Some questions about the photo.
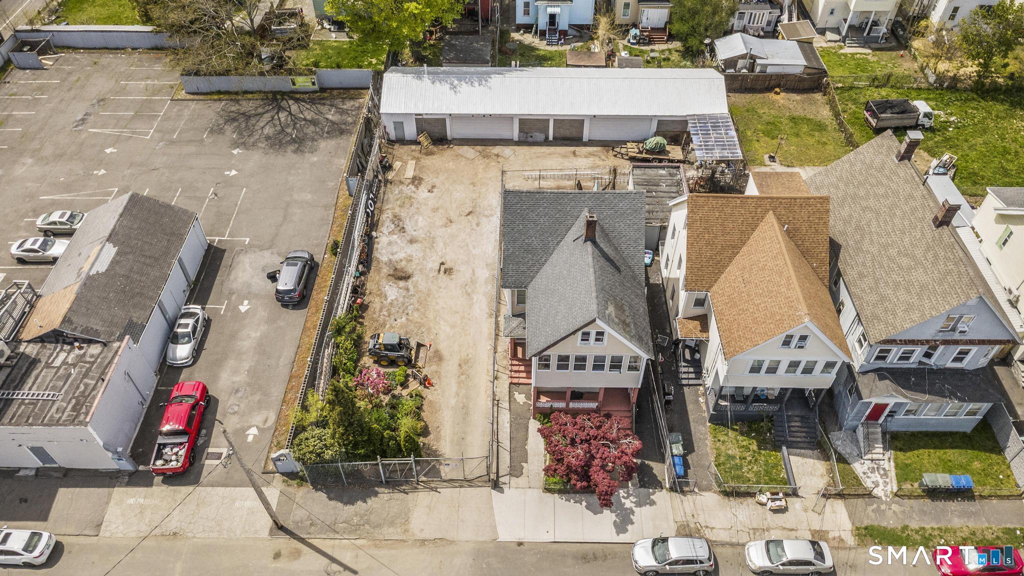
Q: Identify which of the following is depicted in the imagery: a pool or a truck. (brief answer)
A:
truck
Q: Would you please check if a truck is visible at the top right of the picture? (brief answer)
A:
Yes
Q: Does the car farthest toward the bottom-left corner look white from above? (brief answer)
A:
Yes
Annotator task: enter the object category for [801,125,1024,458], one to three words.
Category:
house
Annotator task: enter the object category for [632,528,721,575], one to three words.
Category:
car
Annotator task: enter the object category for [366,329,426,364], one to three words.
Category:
work vehicle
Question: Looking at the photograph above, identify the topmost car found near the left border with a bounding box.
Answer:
[31,204,94,233]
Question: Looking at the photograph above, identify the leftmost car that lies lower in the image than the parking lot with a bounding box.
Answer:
[0,529,57,571]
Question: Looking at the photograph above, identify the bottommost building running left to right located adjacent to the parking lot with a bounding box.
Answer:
[381,57,728,143]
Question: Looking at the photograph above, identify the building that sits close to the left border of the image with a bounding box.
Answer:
[0,191,211,482]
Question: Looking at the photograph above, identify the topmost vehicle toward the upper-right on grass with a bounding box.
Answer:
[857,95,941,135]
